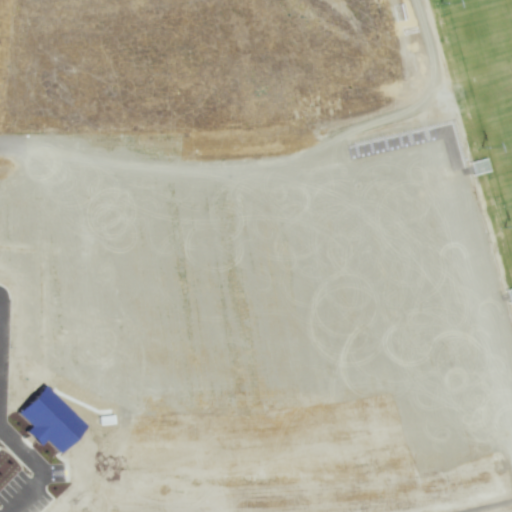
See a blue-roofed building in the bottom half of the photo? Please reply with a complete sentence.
Yes, a blue-roofed building shows up in the bottom half of the photo.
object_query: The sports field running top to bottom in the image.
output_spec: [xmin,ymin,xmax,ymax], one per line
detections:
[430,0,512,290]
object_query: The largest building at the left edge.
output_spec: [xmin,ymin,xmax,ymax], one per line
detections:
[21,386,89,453]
